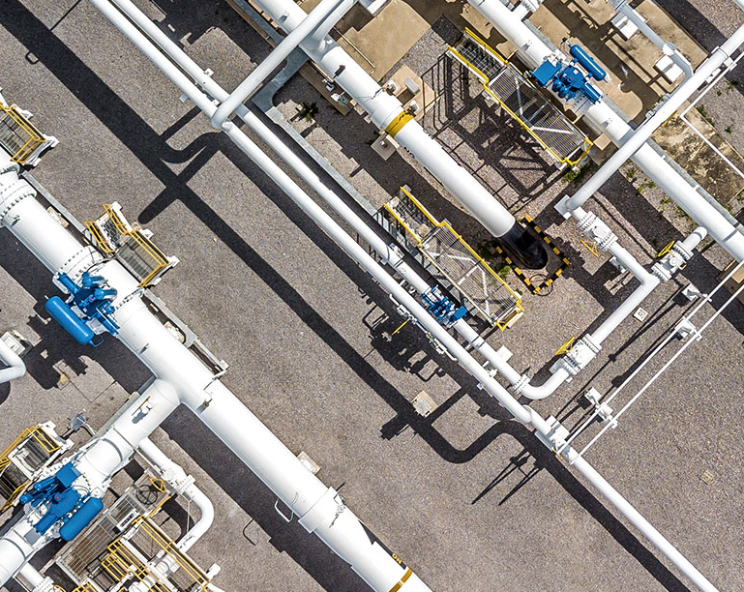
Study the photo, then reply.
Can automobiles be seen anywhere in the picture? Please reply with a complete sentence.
No, the picture doesn't show any automobile.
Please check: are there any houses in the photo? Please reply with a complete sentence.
No, no house is visible in the view.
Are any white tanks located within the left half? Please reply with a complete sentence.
No, the scene shows no white tank within the left half.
